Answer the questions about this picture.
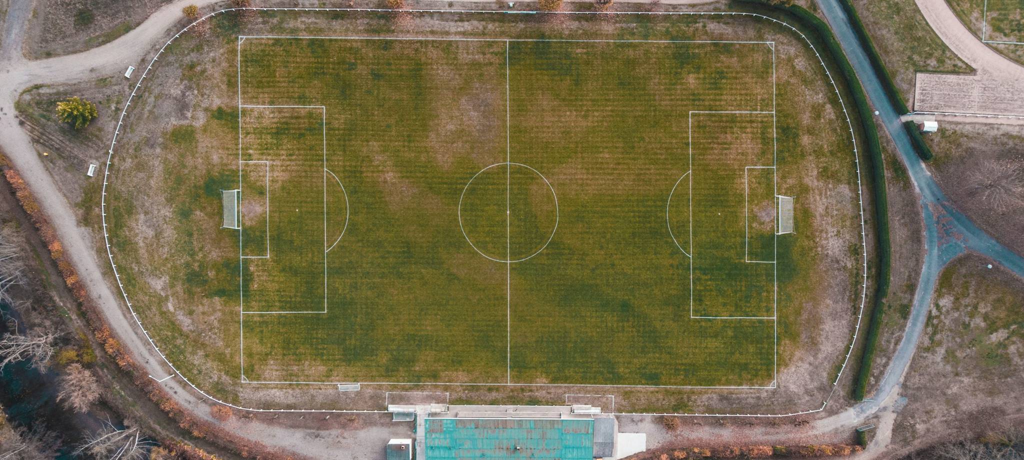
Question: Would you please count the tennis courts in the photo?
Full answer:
The picture shows no tennis courts.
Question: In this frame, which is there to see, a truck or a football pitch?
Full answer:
Looking from above, you can make out a football pitch.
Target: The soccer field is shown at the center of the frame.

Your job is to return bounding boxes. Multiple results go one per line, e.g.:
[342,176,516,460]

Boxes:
[235,31,780,406]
